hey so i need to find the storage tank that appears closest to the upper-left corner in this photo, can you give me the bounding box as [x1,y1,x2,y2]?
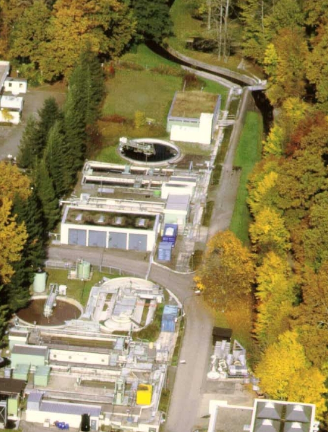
[112,138,184,169]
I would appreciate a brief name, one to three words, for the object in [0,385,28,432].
building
